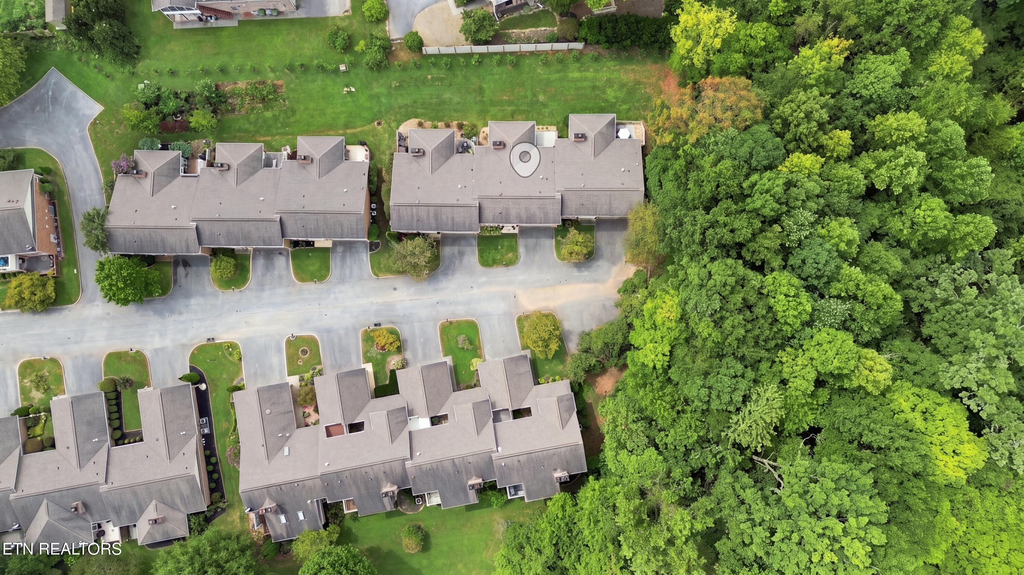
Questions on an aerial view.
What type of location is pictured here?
residential area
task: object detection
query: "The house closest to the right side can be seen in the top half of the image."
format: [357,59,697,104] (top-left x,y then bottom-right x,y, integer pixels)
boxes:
[554,113,644,221]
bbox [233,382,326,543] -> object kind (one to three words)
house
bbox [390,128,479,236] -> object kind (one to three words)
house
